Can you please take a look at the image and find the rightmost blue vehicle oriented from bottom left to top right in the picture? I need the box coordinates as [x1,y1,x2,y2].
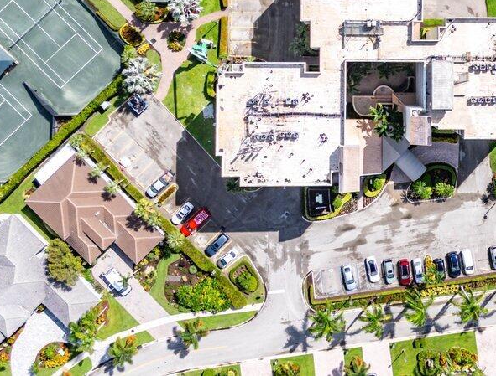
[206,233,230,257]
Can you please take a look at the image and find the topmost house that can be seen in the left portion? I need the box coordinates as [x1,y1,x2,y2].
[25,141,167,266]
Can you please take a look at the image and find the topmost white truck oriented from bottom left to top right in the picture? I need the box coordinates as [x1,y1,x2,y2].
[146,173,174,198]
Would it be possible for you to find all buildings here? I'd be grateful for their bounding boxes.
[0,212,107,341]
[25,141,167,266]
[215,0,496,193]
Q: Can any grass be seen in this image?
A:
Yes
